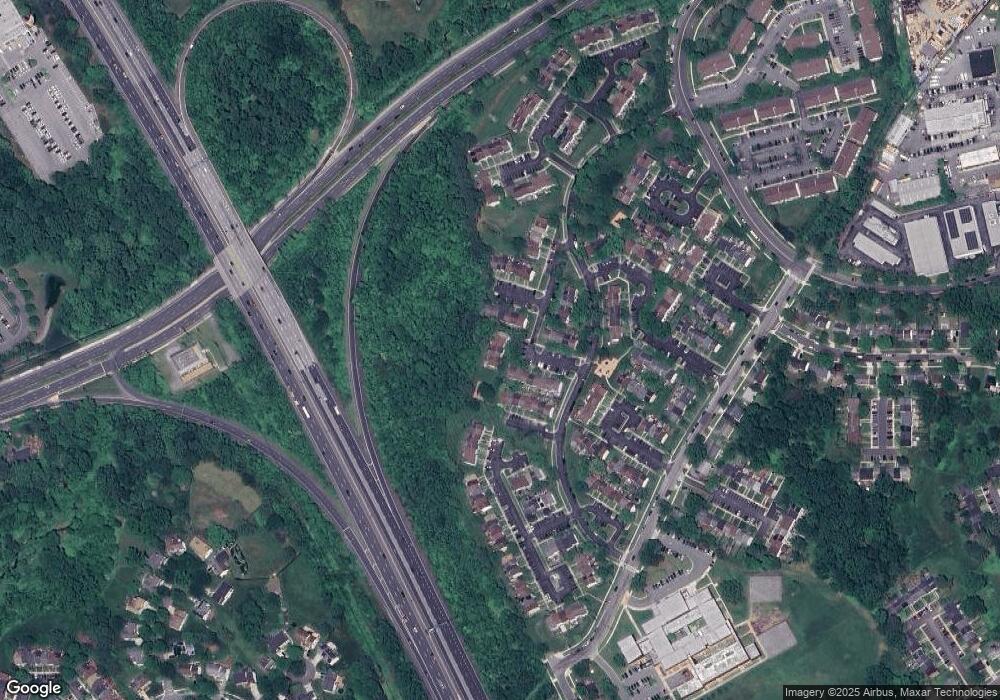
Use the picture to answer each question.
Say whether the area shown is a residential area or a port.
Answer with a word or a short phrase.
residential area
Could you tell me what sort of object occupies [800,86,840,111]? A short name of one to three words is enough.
building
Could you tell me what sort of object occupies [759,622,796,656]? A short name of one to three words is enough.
sports court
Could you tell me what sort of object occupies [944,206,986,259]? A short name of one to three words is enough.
building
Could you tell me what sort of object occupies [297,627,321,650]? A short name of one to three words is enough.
house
